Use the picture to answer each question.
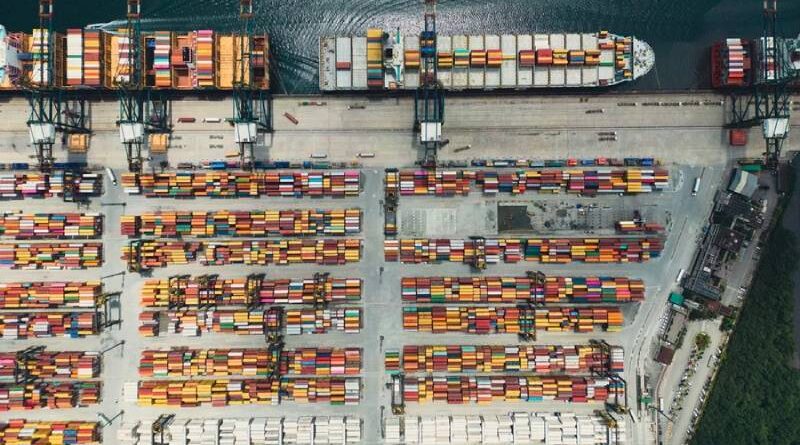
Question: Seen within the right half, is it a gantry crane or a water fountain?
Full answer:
You can see a gantry crane within the right half.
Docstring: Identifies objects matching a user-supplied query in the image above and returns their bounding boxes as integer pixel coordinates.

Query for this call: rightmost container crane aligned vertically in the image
[717,0,796,163]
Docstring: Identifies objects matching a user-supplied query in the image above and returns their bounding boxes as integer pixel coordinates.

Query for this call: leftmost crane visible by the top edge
[16,0,93,169]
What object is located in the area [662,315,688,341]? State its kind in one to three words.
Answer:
building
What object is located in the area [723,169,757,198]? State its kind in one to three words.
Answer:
building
